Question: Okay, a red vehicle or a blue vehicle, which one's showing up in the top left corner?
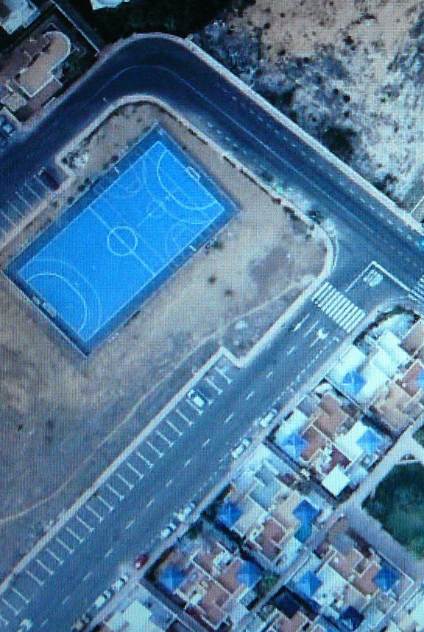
blue vehicle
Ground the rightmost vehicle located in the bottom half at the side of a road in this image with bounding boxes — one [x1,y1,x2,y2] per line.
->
[259,407,277,427]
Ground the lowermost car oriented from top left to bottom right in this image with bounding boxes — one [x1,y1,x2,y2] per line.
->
[188,389,207,408]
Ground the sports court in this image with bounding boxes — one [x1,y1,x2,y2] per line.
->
[3,124,241,354]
